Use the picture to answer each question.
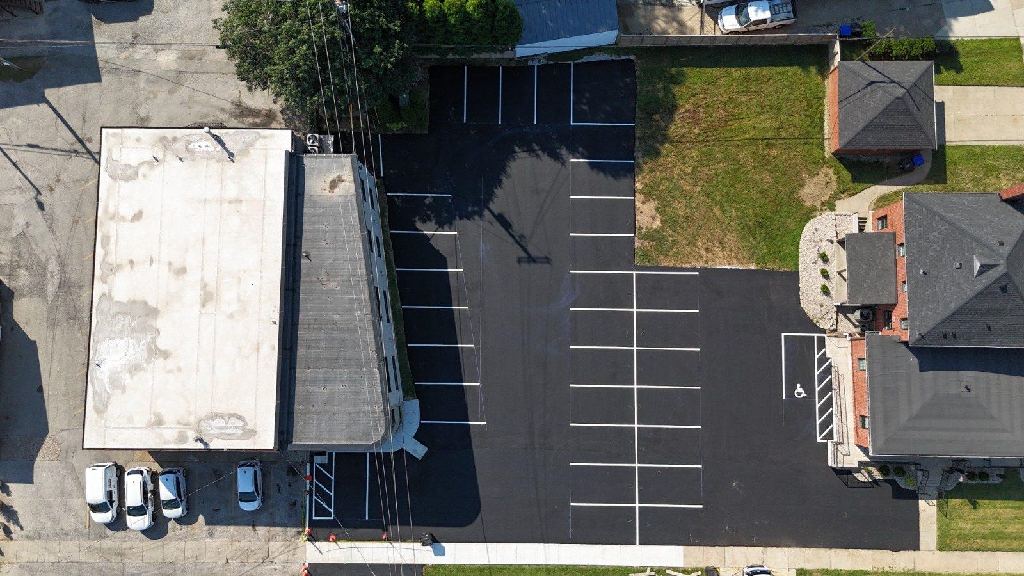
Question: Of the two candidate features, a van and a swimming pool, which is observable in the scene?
van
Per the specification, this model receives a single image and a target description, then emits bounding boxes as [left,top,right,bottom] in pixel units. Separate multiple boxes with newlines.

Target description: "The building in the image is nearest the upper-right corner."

[824,60,938,157]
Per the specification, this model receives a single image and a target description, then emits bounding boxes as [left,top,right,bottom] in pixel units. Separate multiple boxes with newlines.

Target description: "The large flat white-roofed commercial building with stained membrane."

[82,127,312,451]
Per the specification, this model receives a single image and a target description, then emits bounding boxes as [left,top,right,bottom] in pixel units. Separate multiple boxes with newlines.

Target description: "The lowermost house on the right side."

[832,185,1024,459]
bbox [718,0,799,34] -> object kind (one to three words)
truck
